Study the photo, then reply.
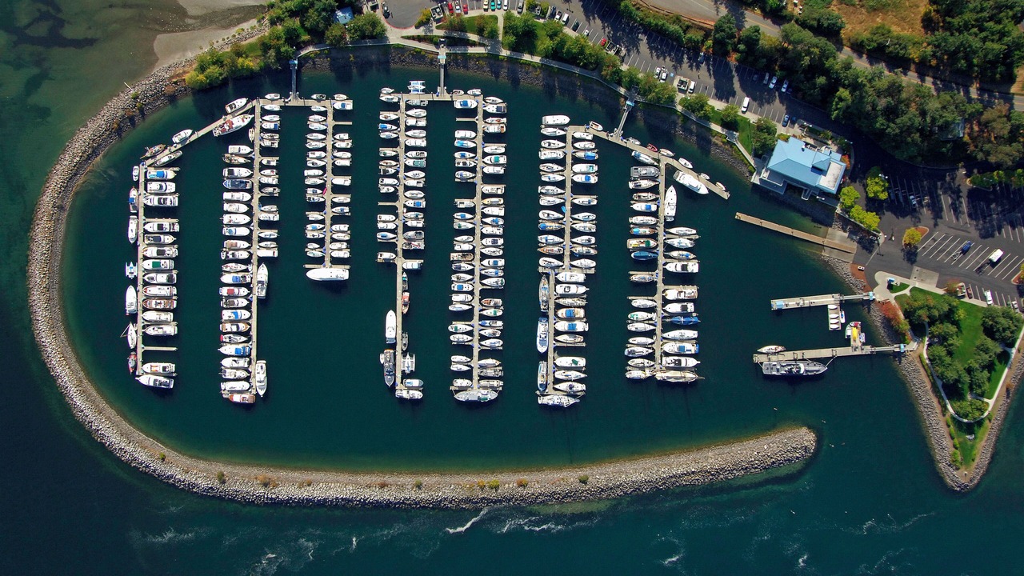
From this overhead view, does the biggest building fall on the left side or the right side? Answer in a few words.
right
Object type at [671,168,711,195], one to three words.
boat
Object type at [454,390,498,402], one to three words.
vessel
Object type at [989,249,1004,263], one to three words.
vehicle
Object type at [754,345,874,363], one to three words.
pier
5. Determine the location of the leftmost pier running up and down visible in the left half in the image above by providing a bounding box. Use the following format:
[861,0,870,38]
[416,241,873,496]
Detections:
[136,161,181,376]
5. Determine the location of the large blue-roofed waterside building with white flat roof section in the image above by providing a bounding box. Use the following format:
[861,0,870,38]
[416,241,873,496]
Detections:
[749,134,845,207]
